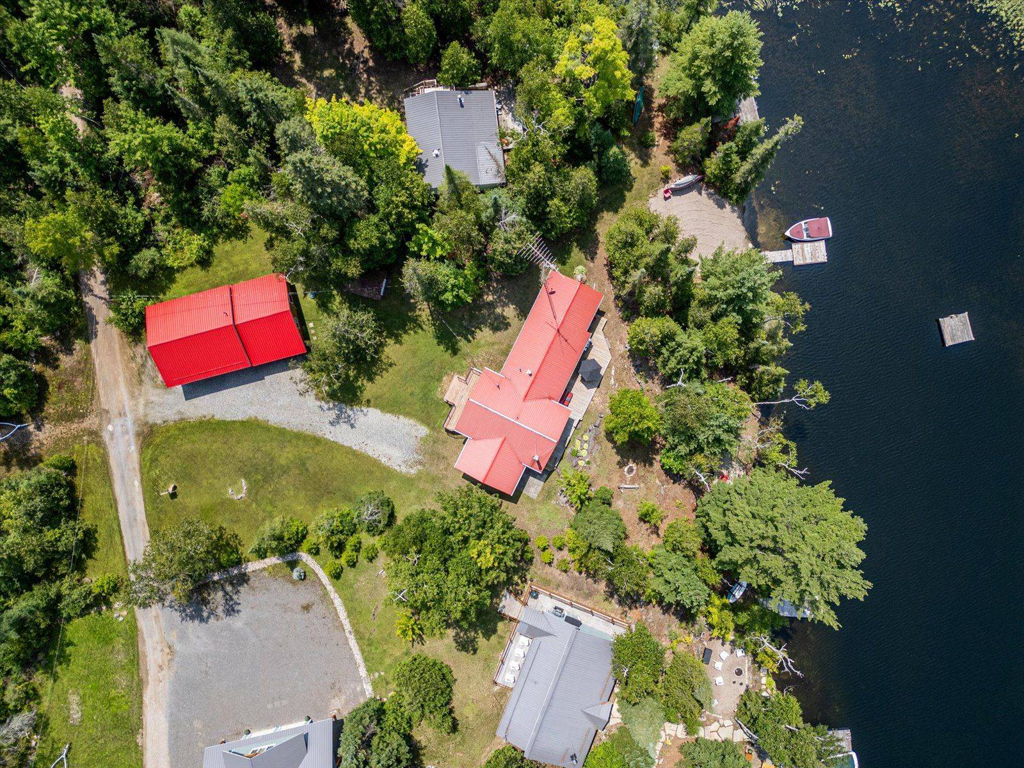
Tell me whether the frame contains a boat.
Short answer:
Yes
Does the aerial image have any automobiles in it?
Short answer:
No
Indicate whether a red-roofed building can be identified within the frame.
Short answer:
Yes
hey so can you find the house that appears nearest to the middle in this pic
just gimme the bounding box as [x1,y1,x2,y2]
[455,270,603,496]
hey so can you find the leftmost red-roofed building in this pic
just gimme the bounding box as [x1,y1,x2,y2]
[145,273,309,388]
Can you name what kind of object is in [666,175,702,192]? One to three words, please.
boat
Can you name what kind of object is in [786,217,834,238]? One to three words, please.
boat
